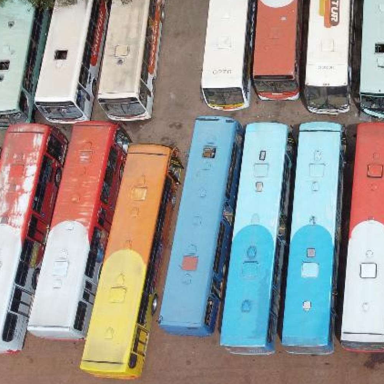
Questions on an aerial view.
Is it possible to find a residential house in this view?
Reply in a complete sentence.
No, no residential house is visible in the scene.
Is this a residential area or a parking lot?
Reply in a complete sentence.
What you see here is a parking lot.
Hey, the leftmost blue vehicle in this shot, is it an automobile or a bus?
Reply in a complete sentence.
Looking closely, the leftmost blue vehicle is a bus.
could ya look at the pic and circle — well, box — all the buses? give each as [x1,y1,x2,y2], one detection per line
[220,124,294,357]
[202,0,257,111]
[357,0,384,119]
[35,0,112,124]
[83,145,183,382]
[99,0,166,119]
[0,126,67,355]
[29,123,129,341]
[159,119,245,339]
[252,0,303,99]
[283,124,348,356]
[341,124,384,353]
[304,0,353,109]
